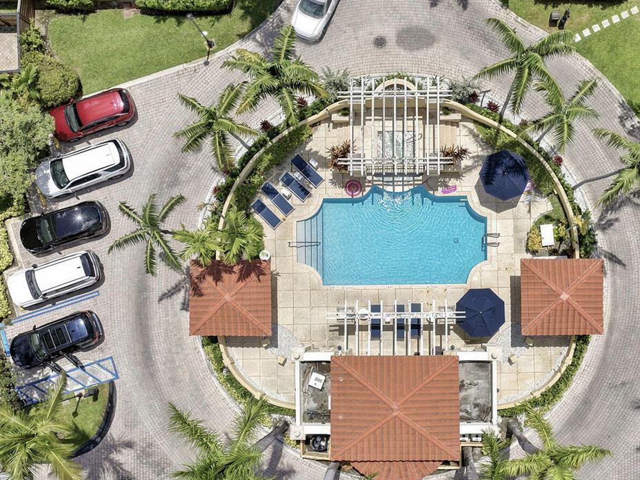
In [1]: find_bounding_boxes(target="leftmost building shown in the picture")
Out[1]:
[187,257,277,338]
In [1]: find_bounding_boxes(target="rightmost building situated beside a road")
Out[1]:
[516,257,607,337]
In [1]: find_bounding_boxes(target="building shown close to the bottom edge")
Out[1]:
[293,349,498,480]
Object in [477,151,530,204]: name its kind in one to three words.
umbrella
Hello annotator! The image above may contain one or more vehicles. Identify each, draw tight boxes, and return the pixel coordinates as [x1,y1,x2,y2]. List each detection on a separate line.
[288,0,344,50]
[6,251,105,307]
[11,311,105,380]
[47,90,137,145]
[38,141,131,197]
[19,201,110,255]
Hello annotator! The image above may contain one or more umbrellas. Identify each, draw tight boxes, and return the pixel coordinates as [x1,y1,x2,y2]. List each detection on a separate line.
[477,151,530,204]
[455,288,503,337]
